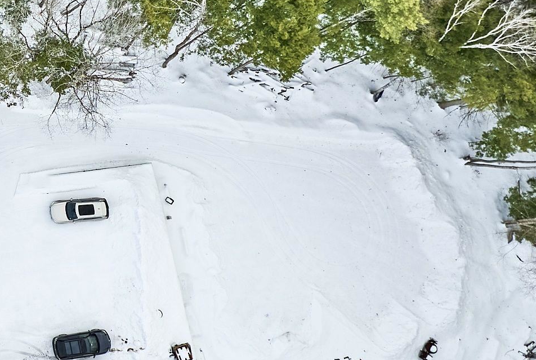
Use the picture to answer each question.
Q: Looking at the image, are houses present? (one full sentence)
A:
No, the frame has no house in it.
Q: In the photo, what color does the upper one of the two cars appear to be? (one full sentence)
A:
The upper one of the two cars looks white in the image.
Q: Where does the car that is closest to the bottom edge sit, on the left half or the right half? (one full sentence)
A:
The car that is closest to the bottom edge is on the left side of the image.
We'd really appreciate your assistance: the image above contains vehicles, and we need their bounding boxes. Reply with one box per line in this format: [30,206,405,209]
[47,196,111,225]
[50,329,112,360]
